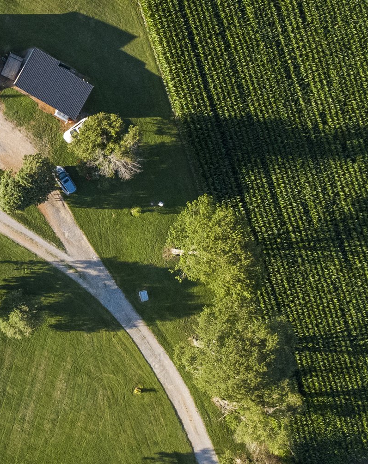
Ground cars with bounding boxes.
[54,165,80,199]
[62,110,94,141]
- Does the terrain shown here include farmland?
Yes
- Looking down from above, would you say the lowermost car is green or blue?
blue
